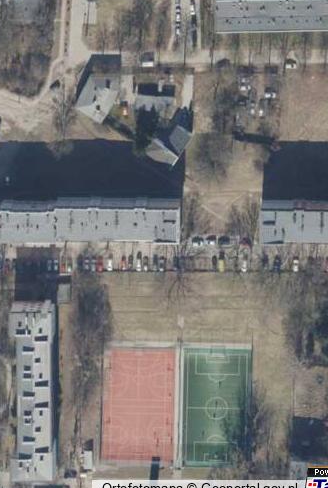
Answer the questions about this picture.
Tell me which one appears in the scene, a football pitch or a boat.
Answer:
football pitch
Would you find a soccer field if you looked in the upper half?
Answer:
No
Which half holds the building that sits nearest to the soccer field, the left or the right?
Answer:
right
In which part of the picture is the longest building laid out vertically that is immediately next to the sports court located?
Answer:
bottom left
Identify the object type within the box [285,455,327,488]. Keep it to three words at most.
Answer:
building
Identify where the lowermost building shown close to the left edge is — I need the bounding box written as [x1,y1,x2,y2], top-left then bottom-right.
[8,298,59,481]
